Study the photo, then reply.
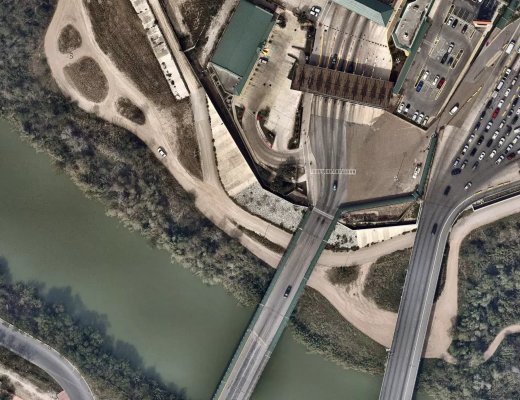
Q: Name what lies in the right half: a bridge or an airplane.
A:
bridge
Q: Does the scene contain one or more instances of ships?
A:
No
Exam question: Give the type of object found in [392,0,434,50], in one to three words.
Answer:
building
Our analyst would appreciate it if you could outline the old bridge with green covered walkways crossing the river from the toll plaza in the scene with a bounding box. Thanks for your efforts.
[213,208,341,400]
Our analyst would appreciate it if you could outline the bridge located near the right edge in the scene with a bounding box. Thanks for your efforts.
[379,178,520,400]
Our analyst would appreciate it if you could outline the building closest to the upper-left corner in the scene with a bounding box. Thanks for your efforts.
[210,0,273,94]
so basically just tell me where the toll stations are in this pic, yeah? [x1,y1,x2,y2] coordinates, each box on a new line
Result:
[288,58,395,108]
